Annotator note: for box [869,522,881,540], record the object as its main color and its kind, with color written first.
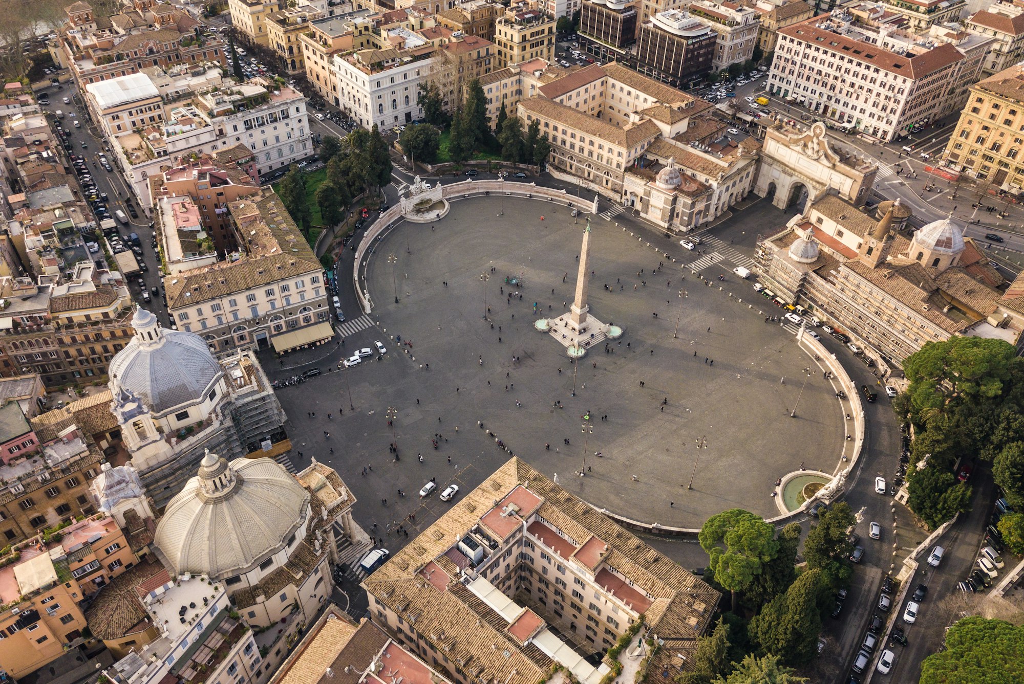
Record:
gray vehicle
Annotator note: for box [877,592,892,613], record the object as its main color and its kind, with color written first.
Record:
gray car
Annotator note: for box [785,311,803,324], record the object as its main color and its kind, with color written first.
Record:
white vehicle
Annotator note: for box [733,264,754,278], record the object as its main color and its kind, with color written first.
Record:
white vehicle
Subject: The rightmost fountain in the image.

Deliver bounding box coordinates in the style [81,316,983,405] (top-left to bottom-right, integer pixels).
[776,464,858,523]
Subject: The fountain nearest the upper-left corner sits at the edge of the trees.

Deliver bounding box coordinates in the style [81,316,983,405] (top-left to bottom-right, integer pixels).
[393,175,447,219]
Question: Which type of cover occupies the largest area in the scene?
buildings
